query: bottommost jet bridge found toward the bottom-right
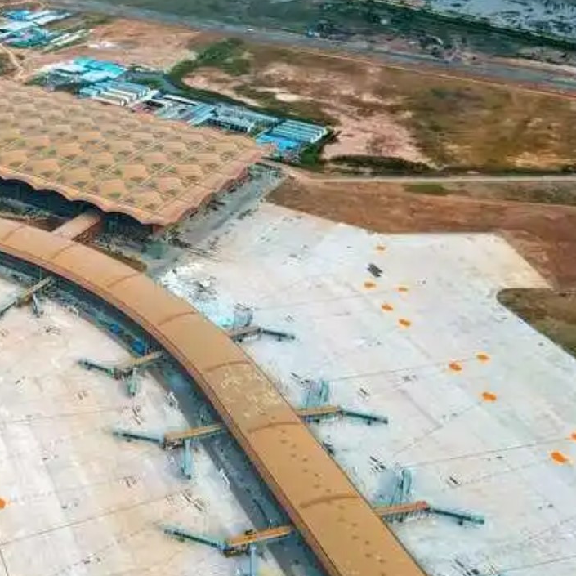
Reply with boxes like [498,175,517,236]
[373,470,486,530]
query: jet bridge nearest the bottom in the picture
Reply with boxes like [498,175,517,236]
[163,525,302,576]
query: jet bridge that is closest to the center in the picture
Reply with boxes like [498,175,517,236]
[227,312,294,345]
